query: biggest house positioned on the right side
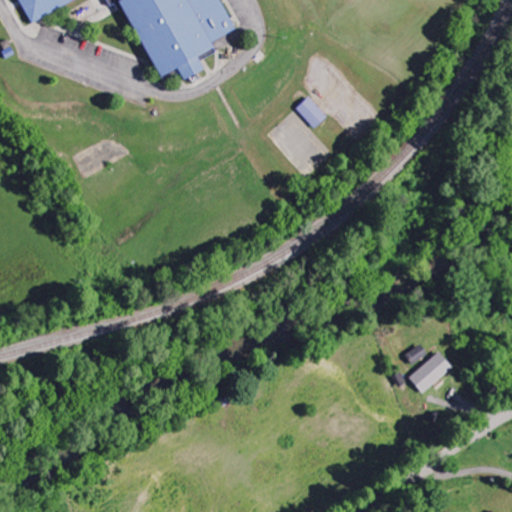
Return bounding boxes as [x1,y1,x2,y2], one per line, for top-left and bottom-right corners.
[409,352,452,392]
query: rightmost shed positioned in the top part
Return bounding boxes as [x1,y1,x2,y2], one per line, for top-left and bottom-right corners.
[296,97,326,128]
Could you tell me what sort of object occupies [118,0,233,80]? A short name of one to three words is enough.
building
